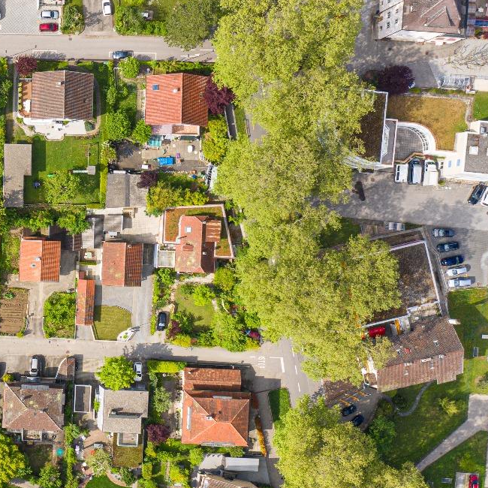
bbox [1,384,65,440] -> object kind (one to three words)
house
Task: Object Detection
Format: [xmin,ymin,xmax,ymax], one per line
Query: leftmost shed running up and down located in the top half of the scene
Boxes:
[2,144,32,208]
